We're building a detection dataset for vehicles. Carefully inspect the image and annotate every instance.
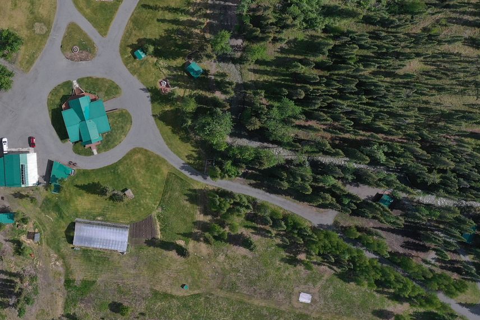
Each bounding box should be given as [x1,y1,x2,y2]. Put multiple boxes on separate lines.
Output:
[2,137,8,154]
[30,136,36,148]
